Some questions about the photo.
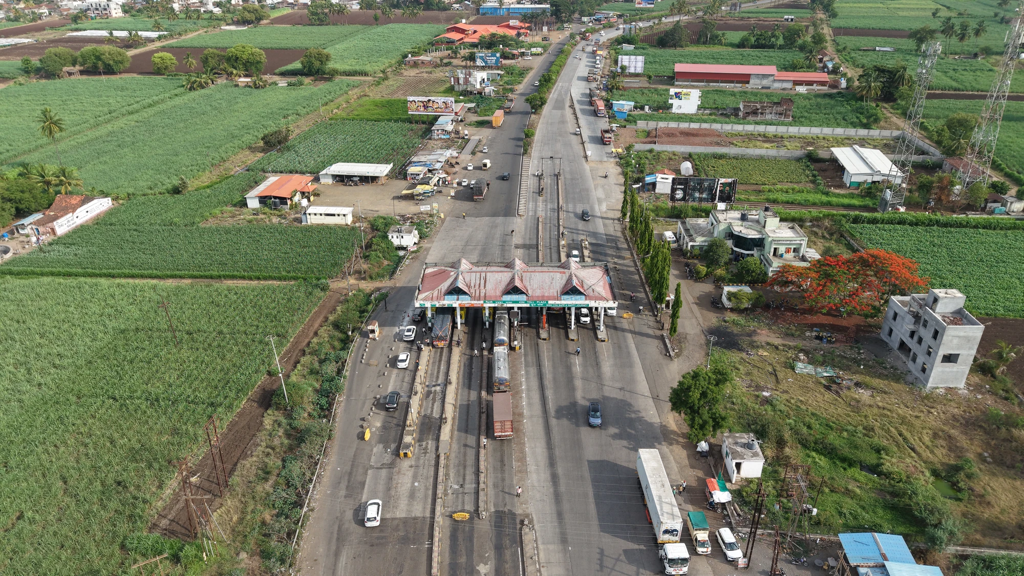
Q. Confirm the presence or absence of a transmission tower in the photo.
Yes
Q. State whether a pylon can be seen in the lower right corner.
Yes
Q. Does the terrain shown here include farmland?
Yes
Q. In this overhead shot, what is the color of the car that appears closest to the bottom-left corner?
white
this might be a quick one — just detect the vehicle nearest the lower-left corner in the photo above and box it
[362,500,383,530]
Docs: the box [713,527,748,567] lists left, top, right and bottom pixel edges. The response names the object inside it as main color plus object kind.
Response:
white car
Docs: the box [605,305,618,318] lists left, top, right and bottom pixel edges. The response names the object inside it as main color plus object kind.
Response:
white vehicle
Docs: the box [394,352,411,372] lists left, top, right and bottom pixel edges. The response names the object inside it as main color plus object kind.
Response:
white car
